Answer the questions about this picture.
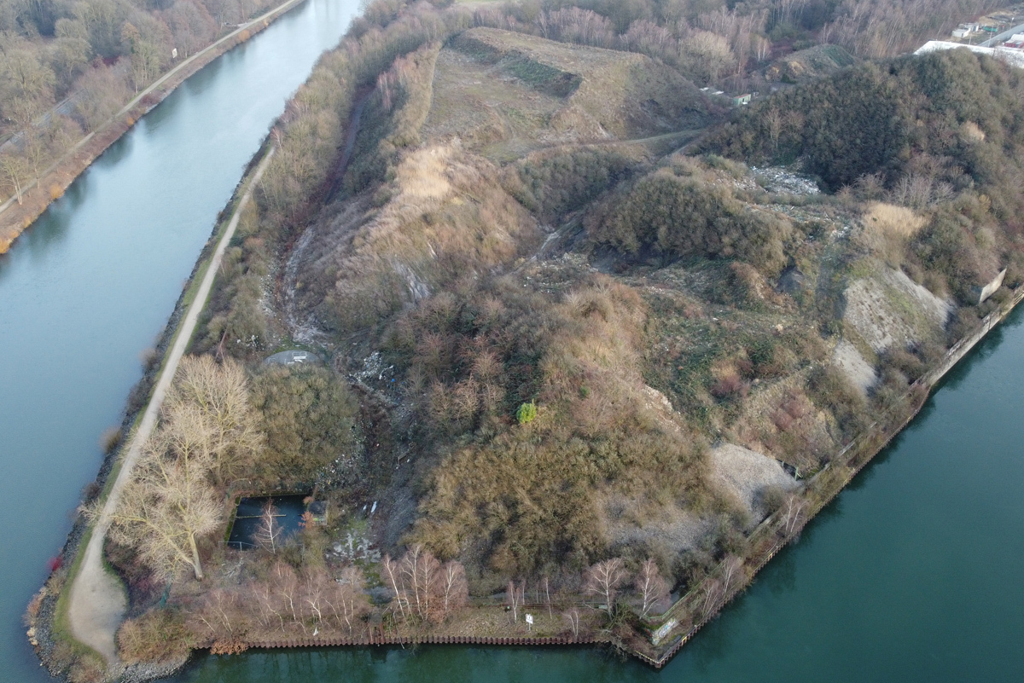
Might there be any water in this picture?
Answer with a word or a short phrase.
Yes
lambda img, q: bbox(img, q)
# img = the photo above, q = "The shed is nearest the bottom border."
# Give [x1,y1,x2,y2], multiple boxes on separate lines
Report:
[306,502,331,525]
